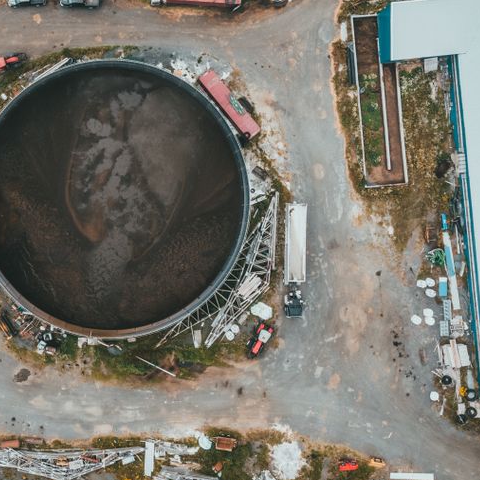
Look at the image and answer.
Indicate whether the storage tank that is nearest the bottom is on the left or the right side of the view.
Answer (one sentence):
It is on the left.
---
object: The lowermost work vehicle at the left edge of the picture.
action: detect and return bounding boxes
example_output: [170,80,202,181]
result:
[0,51,30,74]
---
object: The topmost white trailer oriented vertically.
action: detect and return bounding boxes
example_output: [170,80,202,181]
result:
[281,201,307,287]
